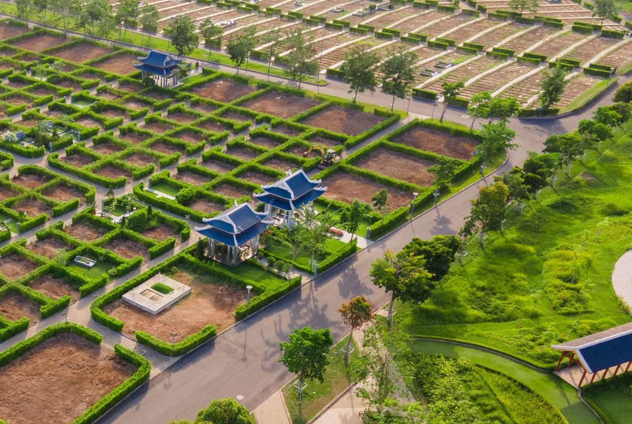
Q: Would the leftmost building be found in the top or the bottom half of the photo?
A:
top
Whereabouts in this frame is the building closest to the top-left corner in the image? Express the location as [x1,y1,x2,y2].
[137,46,194,91]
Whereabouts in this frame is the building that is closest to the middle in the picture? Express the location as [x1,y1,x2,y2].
[250,165,332,232]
